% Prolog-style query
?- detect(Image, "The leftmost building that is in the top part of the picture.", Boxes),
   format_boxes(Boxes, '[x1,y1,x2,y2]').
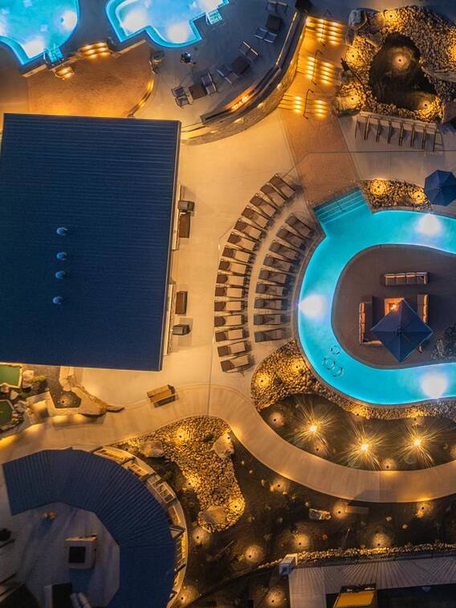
[0,113,187,371]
